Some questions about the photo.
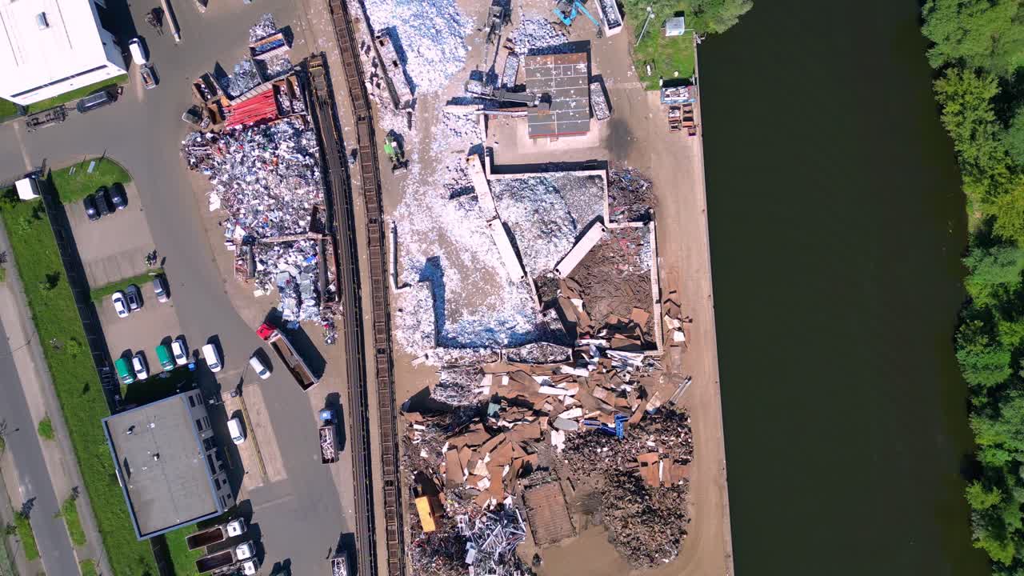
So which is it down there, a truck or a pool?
truck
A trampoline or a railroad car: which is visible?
railroad car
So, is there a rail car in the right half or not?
No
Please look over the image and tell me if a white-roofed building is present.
Yes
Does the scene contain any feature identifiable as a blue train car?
No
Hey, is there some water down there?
Yes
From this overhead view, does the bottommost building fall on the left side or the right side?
left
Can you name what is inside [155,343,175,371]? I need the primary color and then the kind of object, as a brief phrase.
green vehicle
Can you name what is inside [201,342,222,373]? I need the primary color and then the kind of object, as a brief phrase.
white vehicle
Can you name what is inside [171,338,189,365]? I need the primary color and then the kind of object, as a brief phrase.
white car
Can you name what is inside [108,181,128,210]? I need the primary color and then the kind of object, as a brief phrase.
black car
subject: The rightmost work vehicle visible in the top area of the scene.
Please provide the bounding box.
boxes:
[553,0,605,39]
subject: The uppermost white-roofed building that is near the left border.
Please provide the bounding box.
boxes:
[0,0,129,113]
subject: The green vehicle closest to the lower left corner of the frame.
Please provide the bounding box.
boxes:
[113,355,134,383]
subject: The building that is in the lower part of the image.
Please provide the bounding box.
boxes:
[102,386,238,540]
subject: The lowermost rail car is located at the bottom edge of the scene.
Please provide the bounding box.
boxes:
[383,481,403,576]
